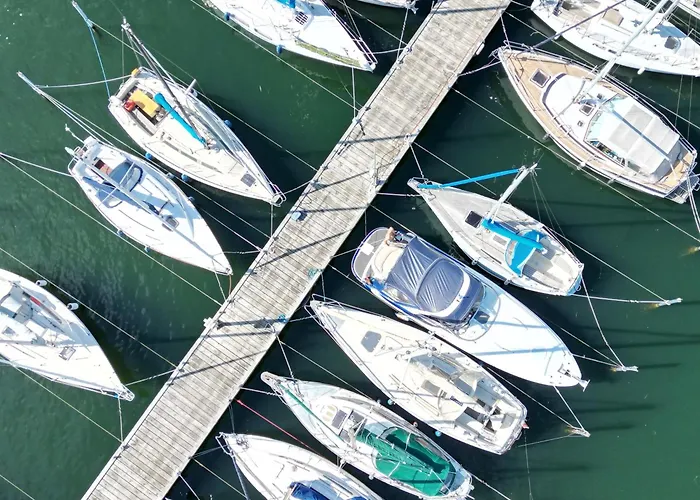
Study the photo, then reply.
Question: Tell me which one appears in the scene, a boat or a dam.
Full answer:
I can see a boat in this picture.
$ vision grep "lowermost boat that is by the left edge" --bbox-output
[0,262,129,400]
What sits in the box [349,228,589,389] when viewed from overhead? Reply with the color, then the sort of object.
white boat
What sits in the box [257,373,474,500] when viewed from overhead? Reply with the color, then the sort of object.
white boat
